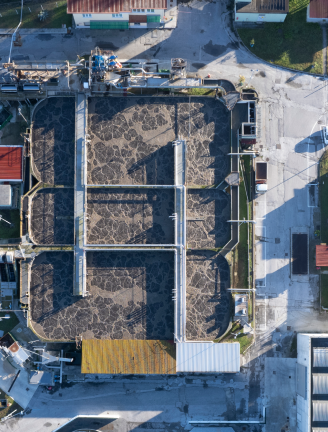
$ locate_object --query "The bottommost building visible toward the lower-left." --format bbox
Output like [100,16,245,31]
[29,370,55,384]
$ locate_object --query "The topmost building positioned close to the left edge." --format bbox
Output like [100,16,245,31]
[0,145,26,183]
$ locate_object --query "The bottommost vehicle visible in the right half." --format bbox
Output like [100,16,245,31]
[255,158,268,191]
